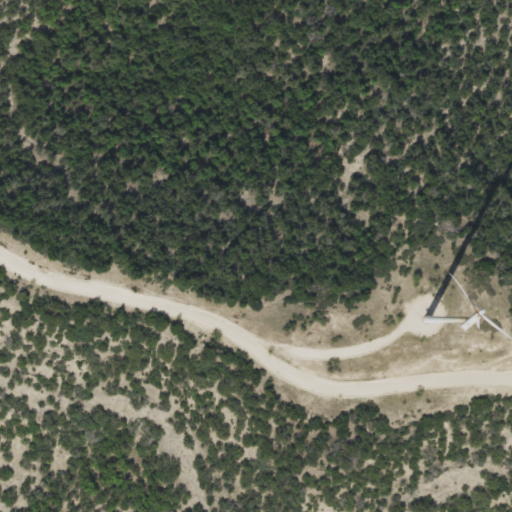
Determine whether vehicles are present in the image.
No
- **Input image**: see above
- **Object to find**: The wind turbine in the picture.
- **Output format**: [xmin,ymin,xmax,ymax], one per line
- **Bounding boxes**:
[424,268,512,340]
